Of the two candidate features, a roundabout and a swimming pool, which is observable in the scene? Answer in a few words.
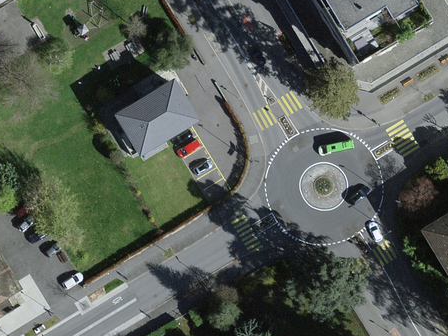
roundabout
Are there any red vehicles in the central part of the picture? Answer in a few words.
Yes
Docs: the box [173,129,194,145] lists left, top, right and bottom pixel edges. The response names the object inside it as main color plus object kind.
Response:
black car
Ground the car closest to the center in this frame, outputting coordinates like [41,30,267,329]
[193,158,214,174]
